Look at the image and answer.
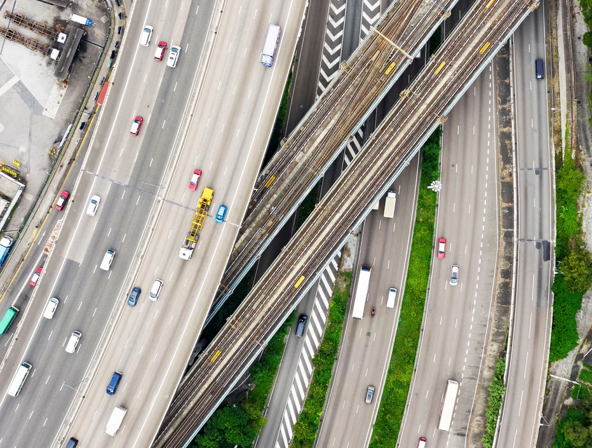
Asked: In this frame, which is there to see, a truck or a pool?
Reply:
truck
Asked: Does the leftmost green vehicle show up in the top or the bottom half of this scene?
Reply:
bottom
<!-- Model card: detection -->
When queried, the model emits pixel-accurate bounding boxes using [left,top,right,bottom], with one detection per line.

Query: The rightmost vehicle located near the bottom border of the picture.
[438,378,459,433]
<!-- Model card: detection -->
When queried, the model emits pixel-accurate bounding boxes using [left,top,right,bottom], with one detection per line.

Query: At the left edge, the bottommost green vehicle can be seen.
[0,305,20,334]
